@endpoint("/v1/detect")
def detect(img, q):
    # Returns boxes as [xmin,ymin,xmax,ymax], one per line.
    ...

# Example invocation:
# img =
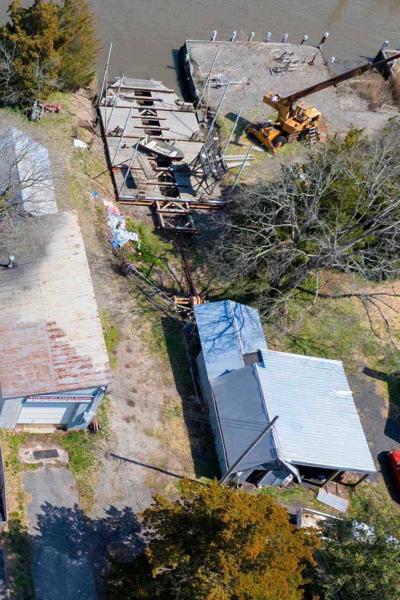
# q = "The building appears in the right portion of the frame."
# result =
[189,301,379,488]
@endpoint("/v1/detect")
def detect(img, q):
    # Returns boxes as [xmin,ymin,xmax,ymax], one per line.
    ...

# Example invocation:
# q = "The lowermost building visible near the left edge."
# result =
[0,211,115,434]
